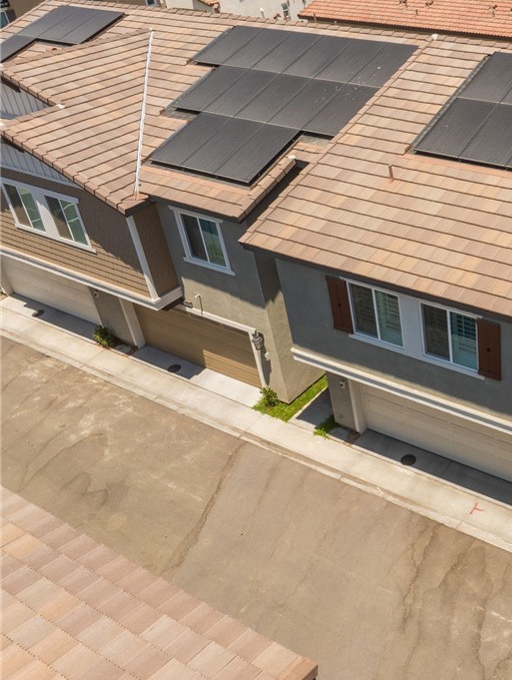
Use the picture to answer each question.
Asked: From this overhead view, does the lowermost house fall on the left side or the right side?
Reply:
left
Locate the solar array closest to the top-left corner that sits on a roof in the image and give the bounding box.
[0,4,121,63]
